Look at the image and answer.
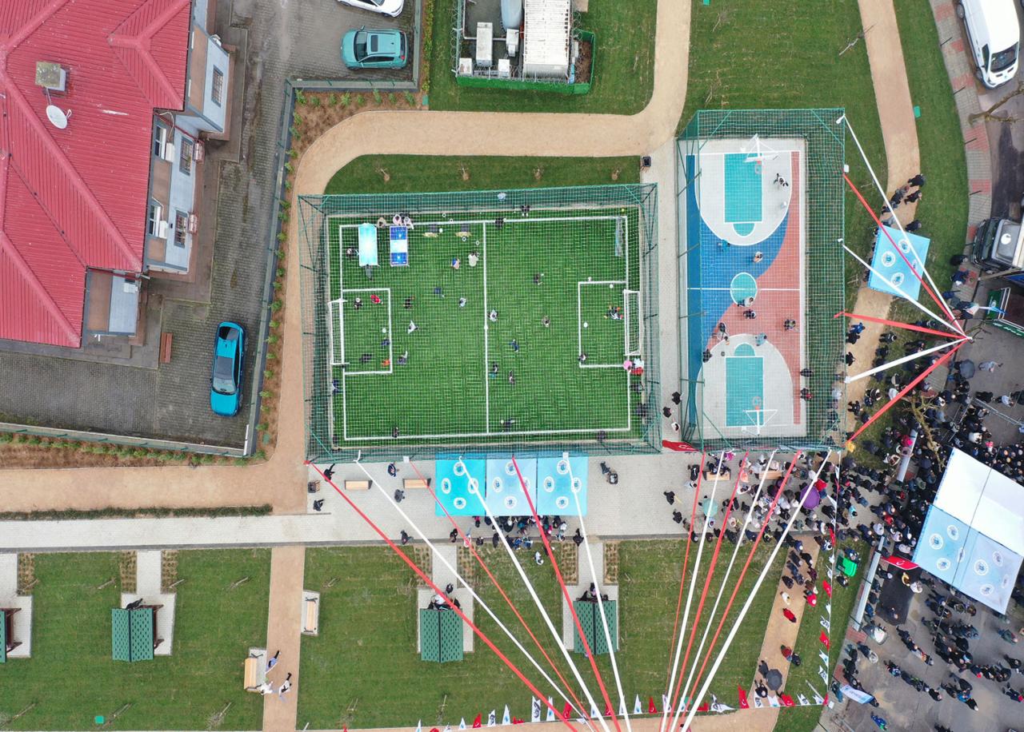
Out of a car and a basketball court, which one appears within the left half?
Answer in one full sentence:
You can see a car within the left half.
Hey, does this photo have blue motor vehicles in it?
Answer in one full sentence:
Yes, this view includes a blue motor vehicle.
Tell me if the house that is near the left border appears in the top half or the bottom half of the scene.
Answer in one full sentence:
Seen from above, the house that is near the left border lies in the top half of the view.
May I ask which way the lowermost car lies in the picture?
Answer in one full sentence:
I'd say the lowermost car is aligned vertically in the picture.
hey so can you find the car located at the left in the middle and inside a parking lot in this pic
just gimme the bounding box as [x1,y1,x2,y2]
[206,320,245,416]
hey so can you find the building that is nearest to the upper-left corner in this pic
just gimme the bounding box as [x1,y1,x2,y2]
[0,0,238,350]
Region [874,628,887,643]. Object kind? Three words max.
umbrella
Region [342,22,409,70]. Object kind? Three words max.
car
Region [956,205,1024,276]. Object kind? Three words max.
truck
